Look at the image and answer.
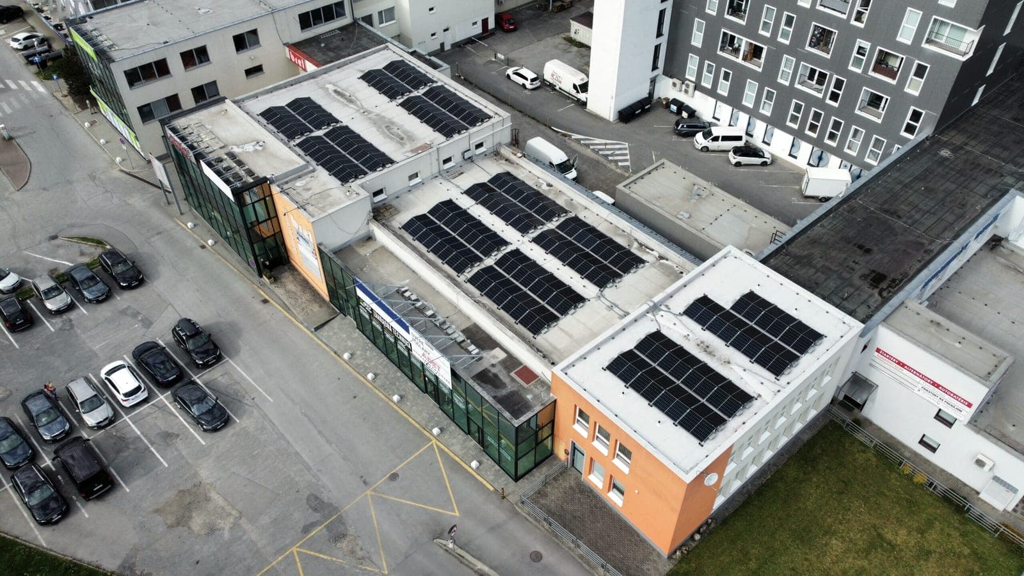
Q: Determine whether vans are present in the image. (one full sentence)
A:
Yes, the image includes a van.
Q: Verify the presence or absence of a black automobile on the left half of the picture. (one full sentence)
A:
Yes, a black automobile shows up on the left half of the picture.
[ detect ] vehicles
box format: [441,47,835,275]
[0,295,32,333]
[98,363,149,409]
[0,419,32,473]
[505,67,543,90]
[22,277,69,316]
[0,260,28,293]
[91,254,140,293]
[728,146,772,167]
[59,266,106,306]
[169,384,225,435]
[61,378,114,431]
[16,392,70,444]
[128,345,180,389]
[12,31,54,50]
[543,59,589,101]
[694,127,747,152]
[524,136,583,183]
[55,440,114,505]
[673,117,718,138]
[6,466,65,528]
[498,10,517,32]
[168,320,218,369]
